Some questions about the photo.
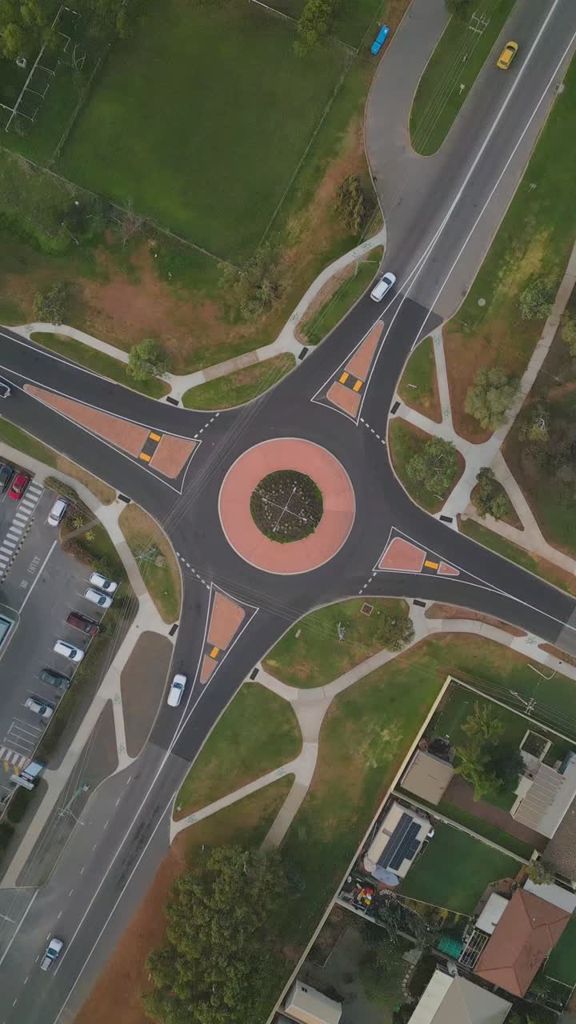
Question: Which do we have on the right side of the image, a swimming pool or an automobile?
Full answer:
Visible on the right side of the image is an automobile.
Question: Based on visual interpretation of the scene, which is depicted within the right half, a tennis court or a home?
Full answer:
The feature located within the right half is a home.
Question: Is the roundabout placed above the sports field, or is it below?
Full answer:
You can see the roundabout below the sports field in the frame.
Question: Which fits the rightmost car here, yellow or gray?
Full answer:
The color of the rightmost car is yellow.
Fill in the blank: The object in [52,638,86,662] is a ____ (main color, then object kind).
white car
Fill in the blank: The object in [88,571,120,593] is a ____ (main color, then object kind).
white car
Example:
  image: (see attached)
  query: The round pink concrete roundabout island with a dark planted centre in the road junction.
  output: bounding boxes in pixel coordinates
[197,417,376,596]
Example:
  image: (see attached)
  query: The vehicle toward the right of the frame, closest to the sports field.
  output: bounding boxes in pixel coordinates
[371,22,390,57]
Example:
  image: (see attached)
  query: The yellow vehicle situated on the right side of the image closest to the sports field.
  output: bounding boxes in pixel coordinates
[495,40,519,73]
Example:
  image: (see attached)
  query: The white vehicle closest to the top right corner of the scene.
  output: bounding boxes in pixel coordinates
[370,270,395,304]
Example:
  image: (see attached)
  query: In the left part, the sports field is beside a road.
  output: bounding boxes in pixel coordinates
[52,0,357,262]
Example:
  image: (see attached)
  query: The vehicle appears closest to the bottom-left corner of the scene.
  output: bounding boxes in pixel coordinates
[37,934,63,974]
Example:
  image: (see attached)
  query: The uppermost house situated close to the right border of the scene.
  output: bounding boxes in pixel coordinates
[506,758,576,840]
